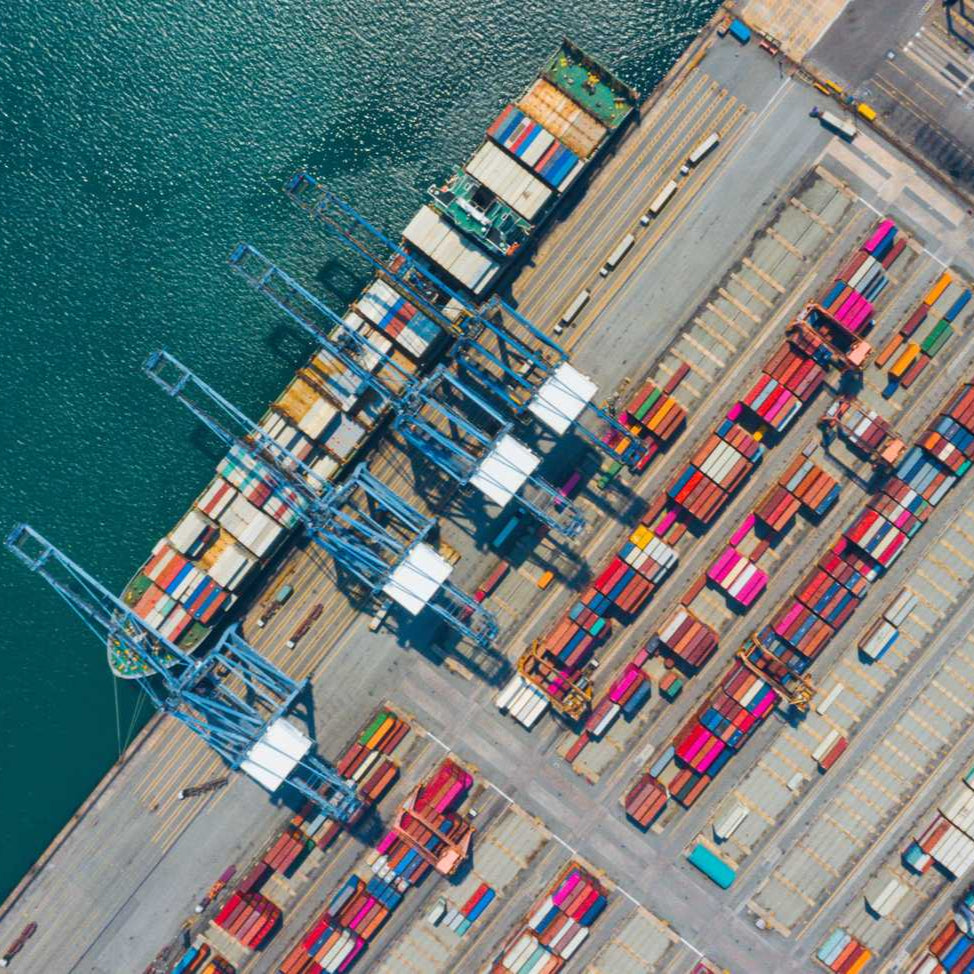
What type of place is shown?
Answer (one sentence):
It's a port.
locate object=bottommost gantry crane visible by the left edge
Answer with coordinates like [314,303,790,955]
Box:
[3,522,373,823]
